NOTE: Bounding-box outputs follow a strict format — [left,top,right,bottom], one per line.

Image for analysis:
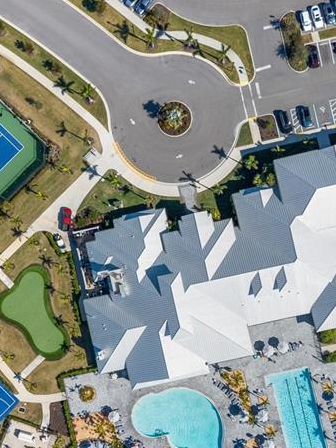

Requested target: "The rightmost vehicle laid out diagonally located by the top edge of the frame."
[134,0,153,18]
